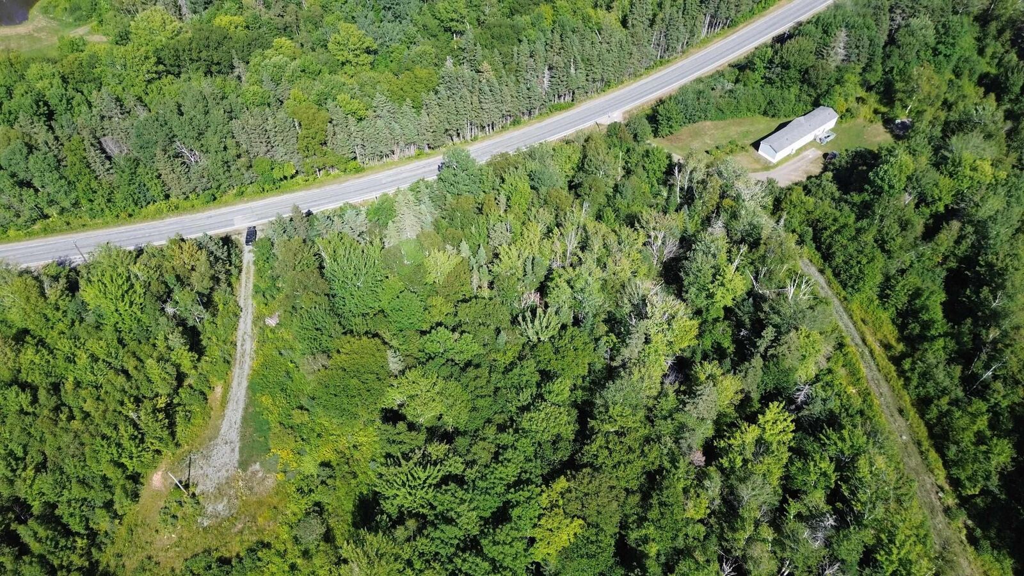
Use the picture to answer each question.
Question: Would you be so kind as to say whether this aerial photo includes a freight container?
No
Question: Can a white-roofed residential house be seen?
Yes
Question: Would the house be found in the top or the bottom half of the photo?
top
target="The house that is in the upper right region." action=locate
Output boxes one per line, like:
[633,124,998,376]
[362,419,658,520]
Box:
[760,111,840,163]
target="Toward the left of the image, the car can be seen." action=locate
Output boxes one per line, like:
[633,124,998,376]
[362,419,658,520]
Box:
[242,226,256,244]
